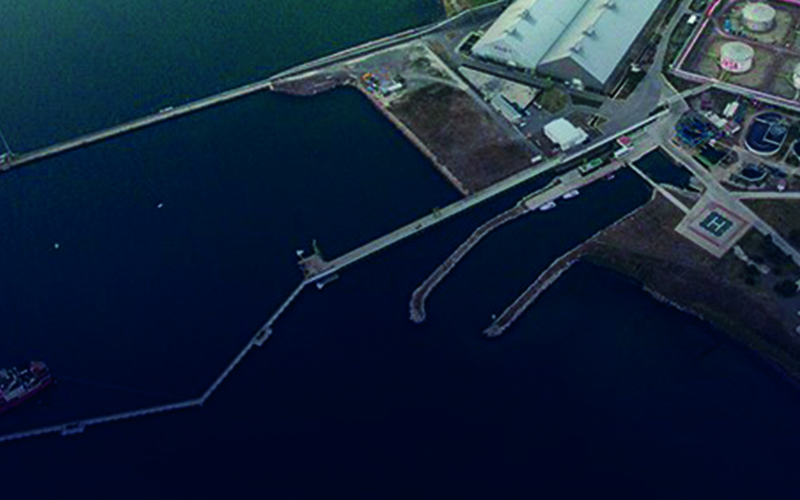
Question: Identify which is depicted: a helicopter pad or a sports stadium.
helicopter pad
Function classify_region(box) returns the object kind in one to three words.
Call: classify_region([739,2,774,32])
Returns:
storage tank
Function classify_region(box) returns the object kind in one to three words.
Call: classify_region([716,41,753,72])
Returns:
storage tank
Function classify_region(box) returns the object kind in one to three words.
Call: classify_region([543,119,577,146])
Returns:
building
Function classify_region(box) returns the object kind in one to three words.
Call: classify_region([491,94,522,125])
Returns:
shed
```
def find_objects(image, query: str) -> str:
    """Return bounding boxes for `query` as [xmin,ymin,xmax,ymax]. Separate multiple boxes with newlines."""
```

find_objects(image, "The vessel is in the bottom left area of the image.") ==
[0,359,52,412]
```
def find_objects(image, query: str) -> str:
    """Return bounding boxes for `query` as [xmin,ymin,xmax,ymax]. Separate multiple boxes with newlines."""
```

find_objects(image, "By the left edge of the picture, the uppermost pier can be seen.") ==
[0,78,272,173]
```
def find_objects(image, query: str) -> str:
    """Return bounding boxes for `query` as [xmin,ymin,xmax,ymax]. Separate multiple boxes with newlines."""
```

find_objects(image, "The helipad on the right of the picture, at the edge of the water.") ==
[676,198,751,257]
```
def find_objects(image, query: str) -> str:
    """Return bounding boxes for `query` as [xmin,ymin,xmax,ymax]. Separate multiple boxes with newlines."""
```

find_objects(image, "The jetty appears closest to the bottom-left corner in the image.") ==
[0,280,307,445]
